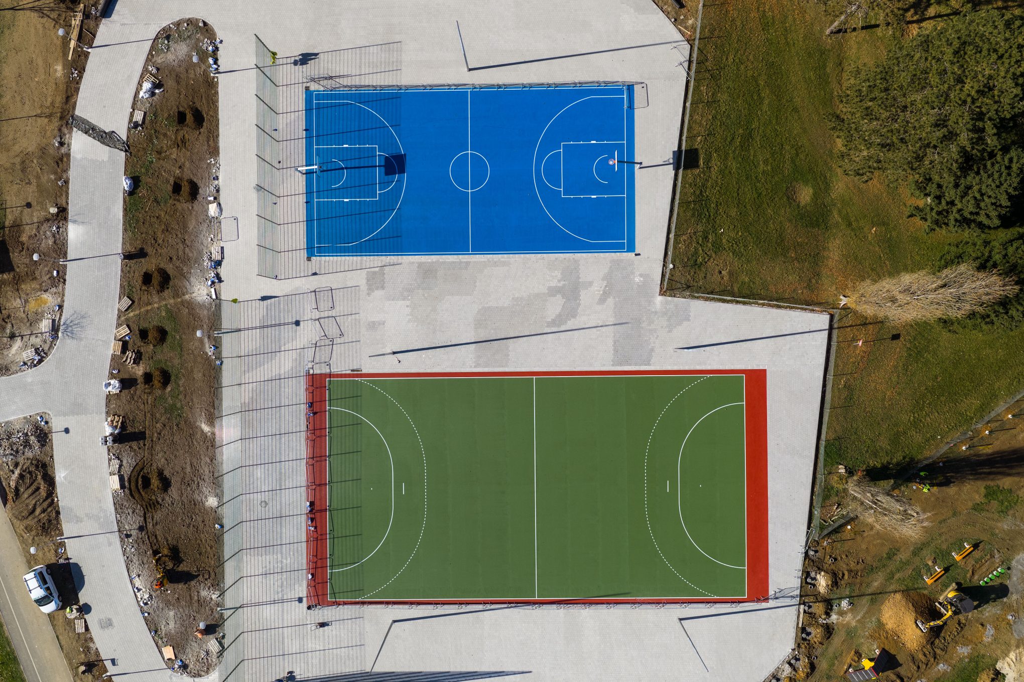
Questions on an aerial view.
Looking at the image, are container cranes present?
No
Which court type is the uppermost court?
basketball court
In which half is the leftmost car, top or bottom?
bottom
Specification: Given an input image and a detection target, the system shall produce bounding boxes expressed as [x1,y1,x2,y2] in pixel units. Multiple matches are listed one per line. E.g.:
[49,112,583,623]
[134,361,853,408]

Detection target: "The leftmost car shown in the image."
[20,566,61,617]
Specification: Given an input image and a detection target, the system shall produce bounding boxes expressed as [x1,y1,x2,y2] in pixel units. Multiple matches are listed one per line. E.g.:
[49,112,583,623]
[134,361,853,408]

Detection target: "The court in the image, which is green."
[305,365,770,608]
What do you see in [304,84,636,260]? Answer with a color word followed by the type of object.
blue basketball court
